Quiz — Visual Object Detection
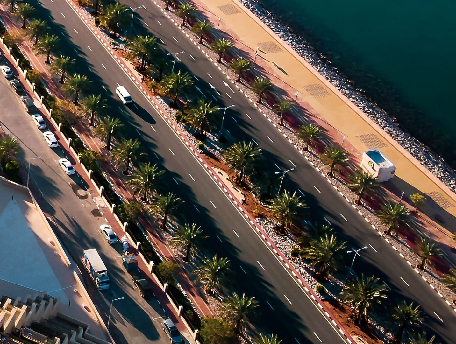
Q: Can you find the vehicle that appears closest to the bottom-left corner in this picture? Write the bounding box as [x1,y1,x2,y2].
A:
[81,242,109,283]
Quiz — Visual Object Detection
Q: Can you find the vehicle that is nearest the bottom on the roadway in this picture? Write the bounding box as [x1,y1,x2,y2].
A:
[154,313,177,338]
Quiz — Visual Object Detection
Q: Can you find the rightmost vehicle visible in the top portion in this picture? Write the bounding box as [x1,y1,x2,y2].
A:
[116,84,134,105]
